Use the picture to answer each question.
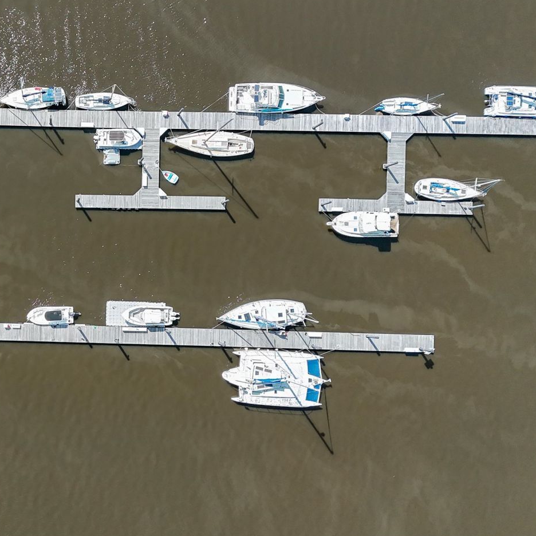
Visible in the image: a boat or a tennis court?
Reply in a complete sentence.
There is a boat in the scene.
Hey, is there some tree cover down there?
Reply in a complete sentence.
No, no tree cover is visible.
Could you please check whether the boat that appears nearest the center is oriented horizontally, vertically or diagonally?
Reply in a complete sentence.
What the image shows is the boat that appears nearest the center lying horizontally.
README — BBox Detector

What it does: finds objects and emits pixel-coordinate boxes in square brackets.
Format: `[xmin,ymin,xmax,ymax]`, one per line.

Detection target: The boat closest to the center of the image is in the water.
[217,299,321,331]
